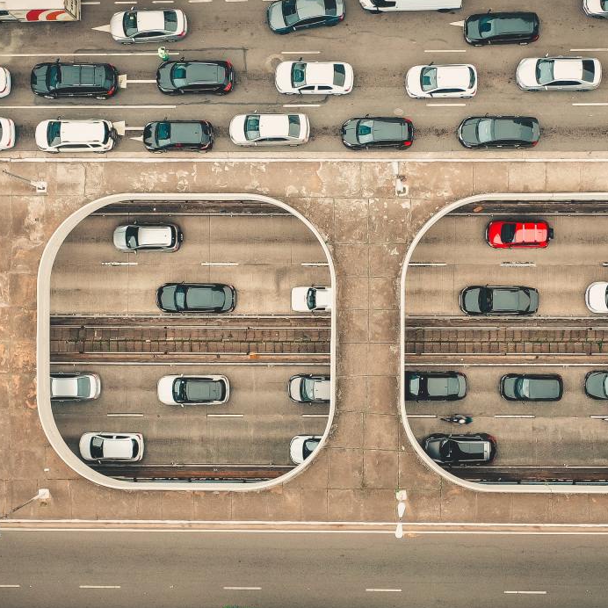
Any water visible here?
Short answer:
No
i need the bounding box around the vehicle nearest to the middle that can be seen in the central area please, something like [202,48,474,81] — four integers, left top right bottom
[292,281,332,316]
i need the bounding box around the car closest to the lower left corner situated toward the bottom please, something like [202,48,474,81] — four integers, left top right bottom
[78,430,144,466]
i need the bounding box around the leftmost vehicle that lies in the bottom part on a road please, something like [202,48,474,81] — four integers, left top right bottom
[50,372,101,402]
